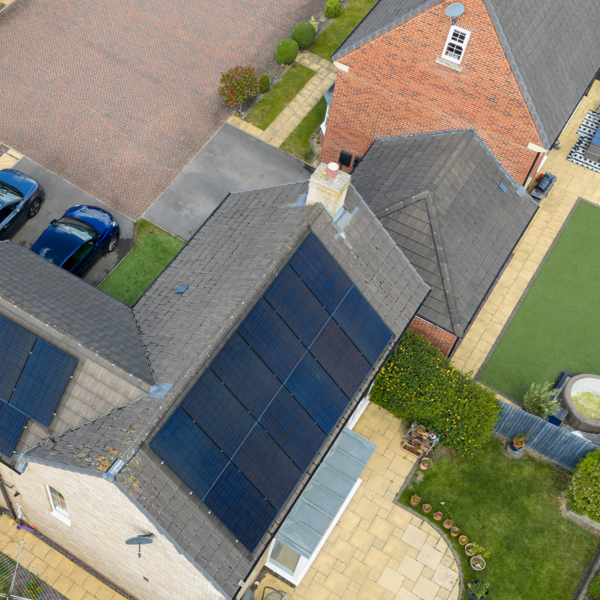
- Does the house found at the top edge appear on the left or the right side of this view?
right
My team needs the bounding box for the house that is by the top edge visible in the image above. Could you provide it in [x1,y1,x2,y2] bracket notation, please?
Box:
[317,0,600,192]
